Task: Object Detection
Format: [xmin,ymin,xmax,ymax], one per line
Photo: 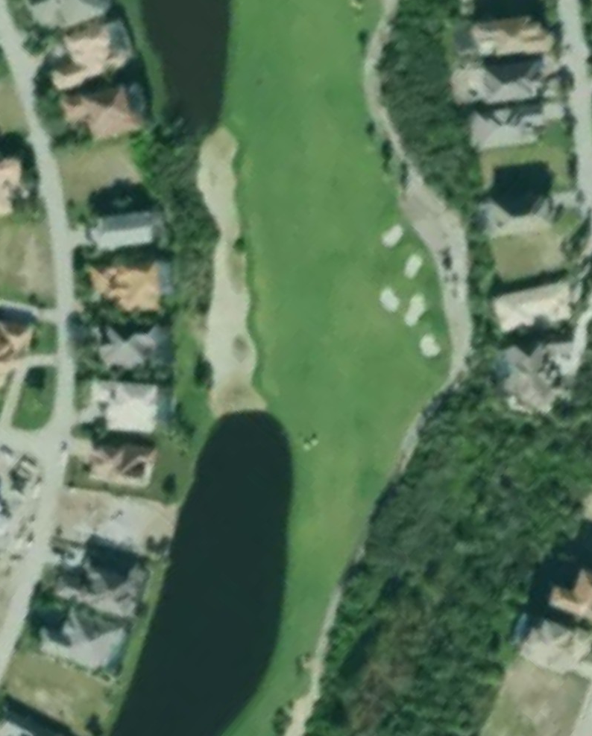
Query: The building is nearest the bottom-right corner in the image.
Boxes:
[516,613,592,682]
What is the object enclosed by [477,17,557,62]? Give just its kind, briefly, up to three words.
house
